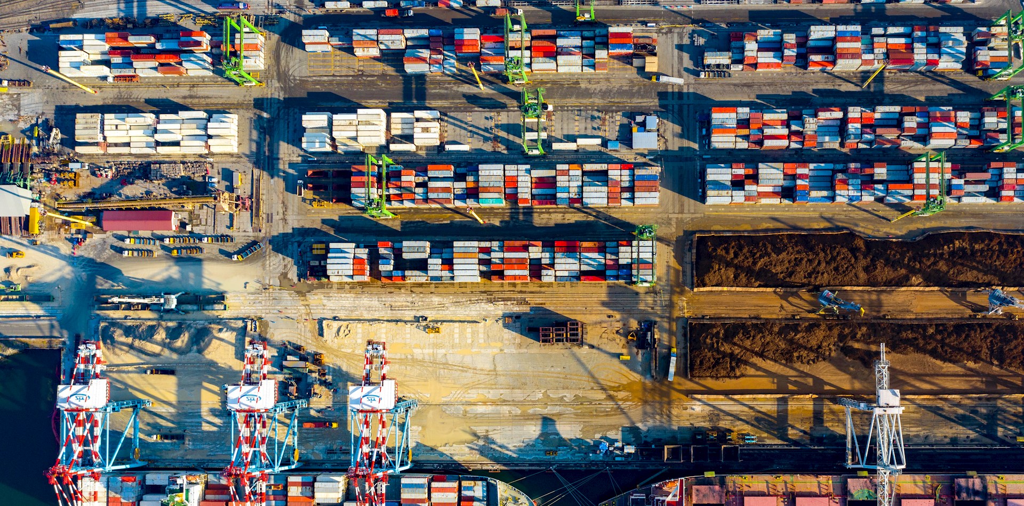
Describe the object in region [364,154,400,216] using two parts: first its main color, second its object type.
green container crane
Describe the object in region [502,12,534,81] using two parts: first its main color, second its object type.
green container crane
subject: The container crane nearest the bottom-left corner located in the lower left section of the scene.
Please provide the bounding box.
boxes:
[52,343,154,506]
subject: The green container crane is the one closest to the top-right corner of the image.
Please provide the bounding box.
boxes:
[985,8,1024,79]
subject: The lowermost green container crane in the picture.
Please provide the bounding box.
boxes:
[630,223,660,287]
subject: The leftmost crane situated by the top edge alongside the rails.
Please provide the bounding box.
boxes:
[223,15,264,81]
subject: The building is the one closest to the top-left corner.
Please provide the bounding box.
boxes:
[0,184,38,218]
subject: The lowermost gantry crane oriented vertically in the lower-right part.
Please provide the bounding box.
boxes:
[836,344,907,506]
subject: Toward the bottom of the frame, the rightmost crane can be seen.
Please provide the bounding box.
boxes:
[984,291,1024,320]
